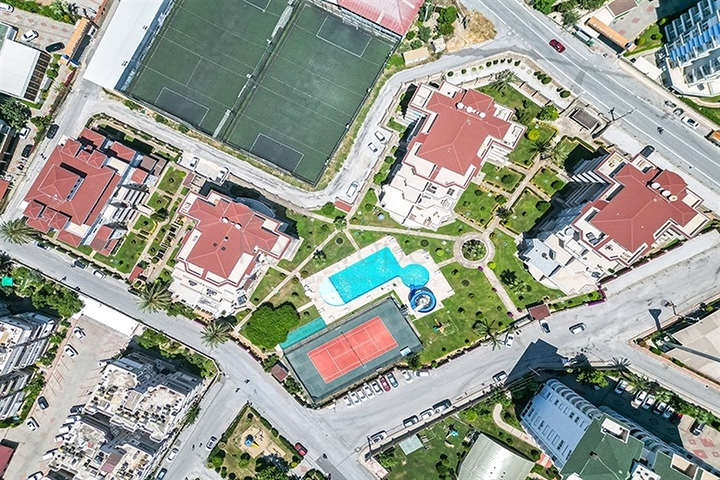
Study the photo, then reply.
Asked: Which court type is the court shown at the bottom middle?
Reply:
tennis court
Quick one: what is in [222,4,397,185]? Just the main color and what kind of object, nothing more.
green soccer field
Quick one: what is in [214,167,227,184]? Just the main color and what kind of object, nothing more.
white vehicle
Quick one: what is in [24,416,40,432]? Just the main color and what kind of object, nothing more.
white car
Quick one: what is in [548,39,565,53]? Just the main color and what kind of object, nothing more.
red car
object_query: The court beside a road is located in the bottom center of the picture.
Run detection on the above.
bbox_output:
[283,298,424,401]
